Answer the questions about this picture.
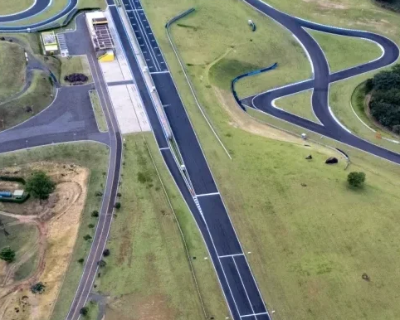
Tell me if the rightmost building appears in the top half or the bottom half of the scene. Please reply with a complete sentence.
It is in the top half that the rightmost building appears.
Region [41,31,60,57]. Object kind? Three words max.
building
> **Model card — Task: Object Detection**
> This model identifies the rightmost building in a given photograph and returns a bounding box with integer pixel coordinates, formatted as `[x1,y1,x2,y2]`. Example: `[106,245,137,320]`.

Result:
[86,11,118,67]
